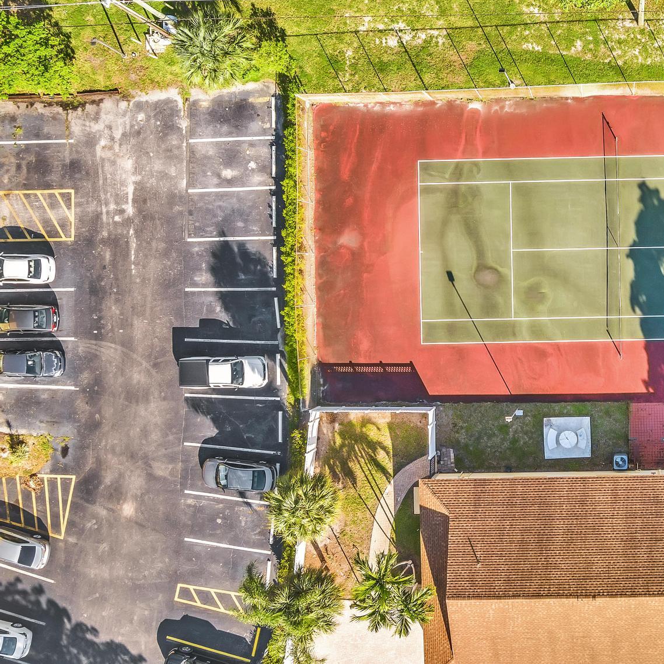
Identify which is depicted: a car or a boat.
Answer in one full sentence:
Looking from above, you can make out a car.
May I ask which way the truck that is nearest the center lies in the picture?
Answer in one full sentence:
What the image shows is the truck that is nearest the center lying from left to right.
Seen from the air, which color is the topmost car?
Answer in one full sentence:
The color of the topmost car is white.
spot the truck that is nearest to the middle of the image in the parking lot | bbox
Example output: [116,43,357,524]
[176,354,271,392]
